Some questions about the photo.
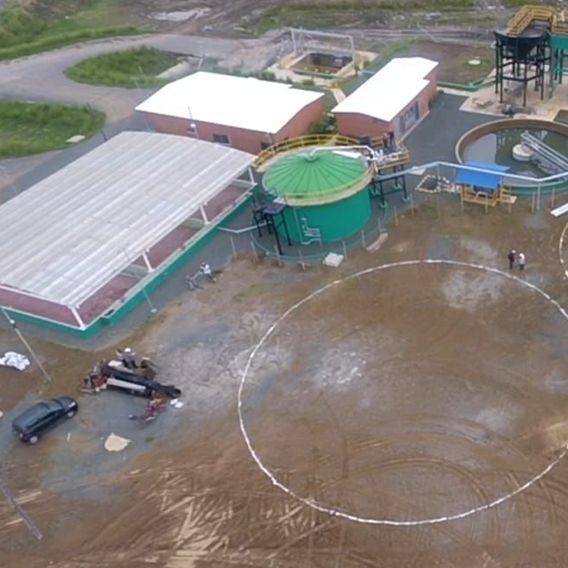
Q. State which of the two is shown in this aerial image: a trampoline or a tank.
tank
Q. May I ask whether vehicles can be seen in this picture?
Yes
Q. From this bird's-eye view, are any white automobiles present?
No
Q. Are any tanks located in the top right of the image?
Yes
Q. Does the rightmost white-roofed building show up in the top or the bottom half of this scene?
top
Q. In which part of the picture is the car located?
bottom left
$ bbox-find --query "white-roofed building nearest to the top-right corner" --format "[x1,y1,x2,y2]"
[333,57,443,145]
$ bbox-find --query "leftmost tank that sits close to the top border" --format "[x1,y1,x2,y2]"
[494,24,549,105]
